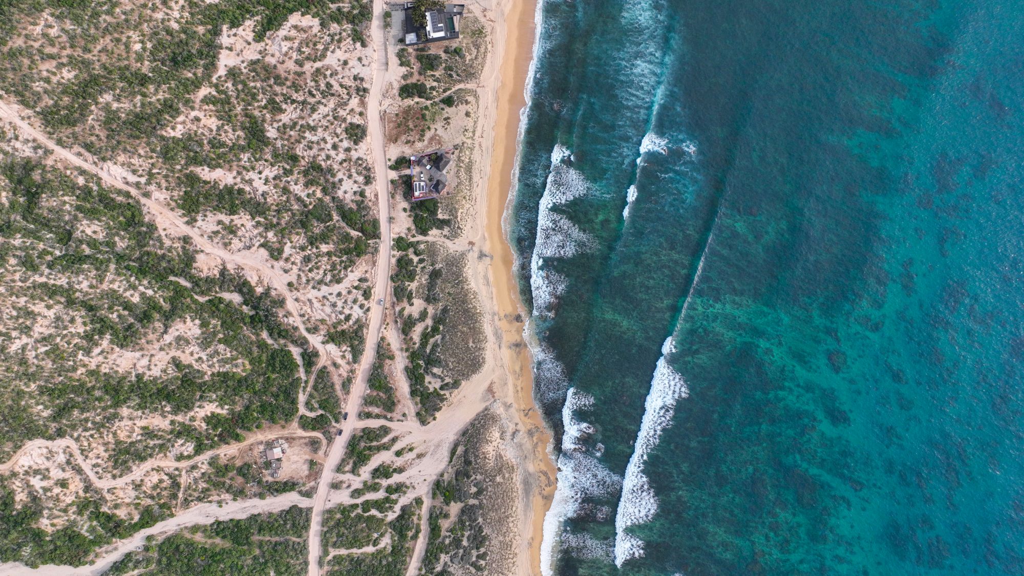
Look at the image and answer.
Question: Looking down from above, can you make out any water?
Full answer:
Yes, there's water in this view.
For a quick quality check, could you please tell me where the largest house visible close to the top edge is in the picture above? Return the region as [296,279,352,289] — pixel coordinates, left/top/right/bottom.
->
[426,9,447,40]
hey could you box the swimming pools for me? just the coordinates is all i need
[446,13,461,36]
